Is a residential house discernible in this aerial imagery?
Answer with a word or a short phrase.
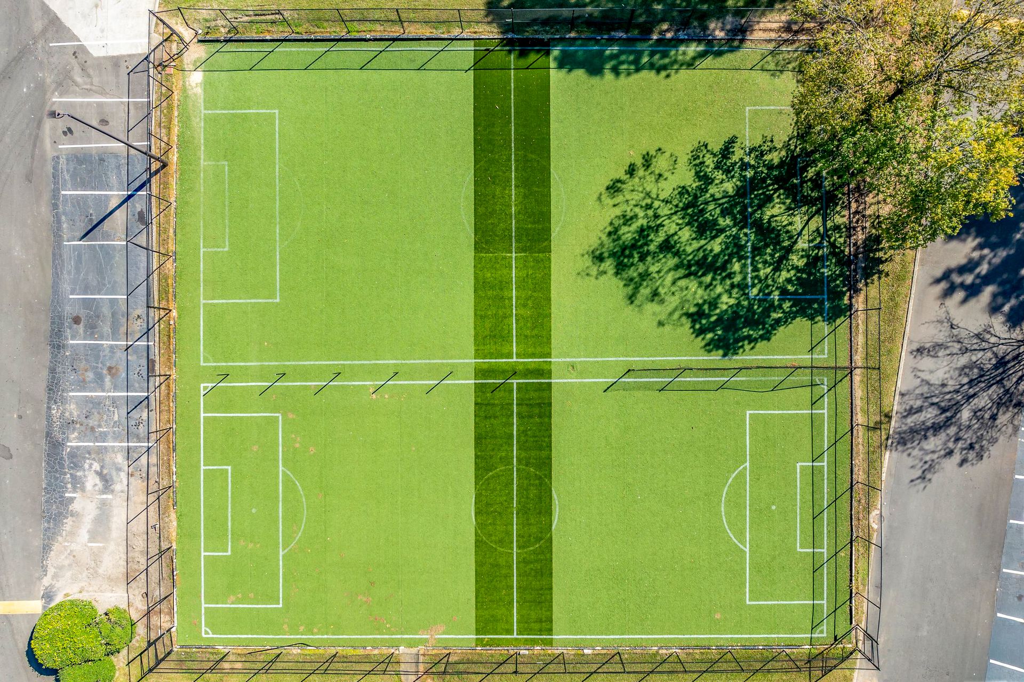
No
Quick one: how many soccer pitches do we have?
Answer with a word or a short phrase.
2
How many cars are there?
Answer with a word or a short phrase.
0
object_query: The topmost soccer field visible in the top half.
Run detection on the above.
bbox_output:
[177,38,851,372]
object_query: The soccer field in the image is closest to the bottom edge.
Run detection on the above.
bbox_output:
[176,372,850,653]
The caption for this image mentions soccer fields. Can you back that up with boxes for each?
[176,372,850,653]
[177,38,851,372]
